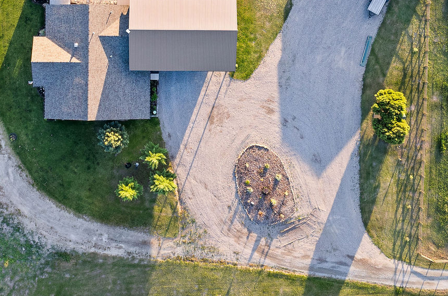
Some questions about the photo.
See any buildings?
Yes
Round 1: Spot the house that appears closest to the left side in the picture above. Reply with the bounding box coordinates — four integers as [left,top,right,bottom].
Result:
[29,3,150,121]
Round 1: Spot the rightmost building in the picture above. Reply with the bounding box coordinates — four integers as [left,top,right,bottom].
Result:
[127,0,236,71]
